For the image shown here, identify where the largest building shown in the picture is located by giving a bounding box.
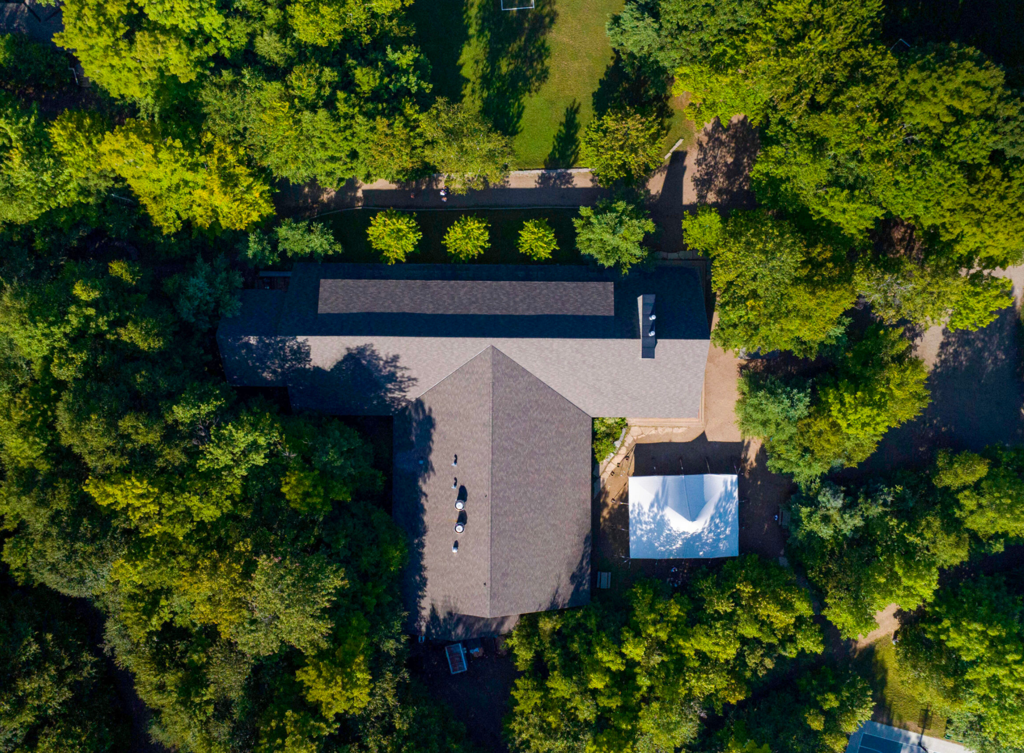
[214,261,713,641]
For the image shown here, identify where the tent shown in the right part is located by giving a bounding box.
[609,455,750,571]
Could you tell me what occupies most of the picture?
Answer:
trees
